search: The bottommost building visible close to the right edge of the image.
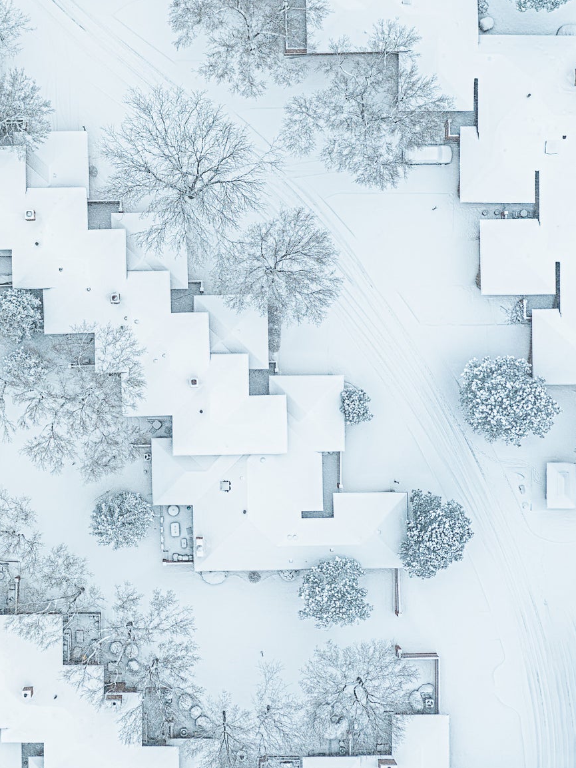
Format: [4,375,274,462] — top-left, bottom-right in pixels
[544,463,576,508]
